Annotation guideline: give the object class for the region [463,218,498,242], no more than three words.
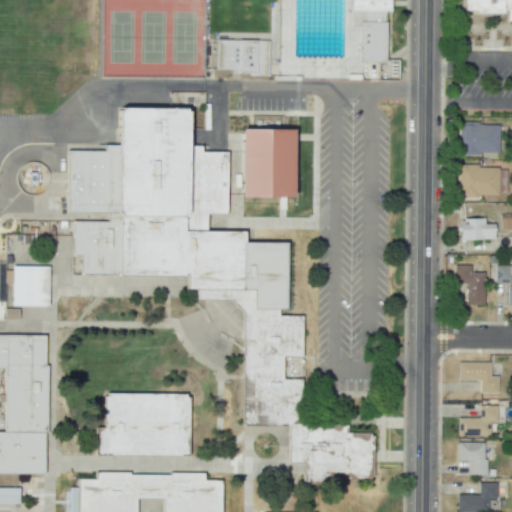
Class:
house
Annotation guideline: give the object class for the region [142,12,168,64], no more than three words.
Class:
tennis court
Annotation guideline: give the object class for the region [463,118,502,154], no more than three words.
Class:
house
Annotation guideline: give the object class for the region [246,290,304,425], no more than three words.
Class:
building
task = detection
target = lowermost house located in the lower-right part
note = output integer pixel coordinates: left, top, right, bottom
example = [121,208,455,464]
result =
[460,482,500,512]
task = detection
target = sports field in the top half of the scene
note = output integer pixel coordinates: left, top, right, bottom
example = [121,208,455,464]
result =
[0,0,88,116]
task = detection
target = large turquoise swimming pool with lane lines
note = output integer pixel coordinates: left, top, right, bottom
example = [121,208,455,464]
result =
[296,0,346,60]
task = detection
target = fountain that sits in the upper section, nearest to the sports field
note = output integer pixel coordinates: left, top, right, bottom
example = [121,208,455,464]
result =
[18,162,51,194]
